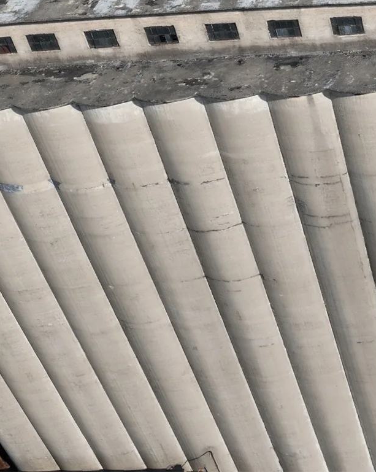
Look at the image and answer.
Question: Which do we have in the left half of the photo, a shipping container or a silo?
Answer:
silo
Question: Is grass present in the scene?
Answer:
No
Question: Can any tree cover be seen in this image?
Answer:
No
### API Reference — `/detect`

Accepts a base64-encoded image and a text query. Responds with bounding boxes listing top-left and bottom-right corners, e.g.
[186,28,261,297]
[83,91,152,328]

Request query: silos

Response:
[70,105,276,472]
[132,101,322,472]
[259,97,376,471]
[195,99,368,472]
[324,96,376,305]
[10,107,231,472]
[0,109,186,472]
[0,378,61,472]
[0,205,141,471]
